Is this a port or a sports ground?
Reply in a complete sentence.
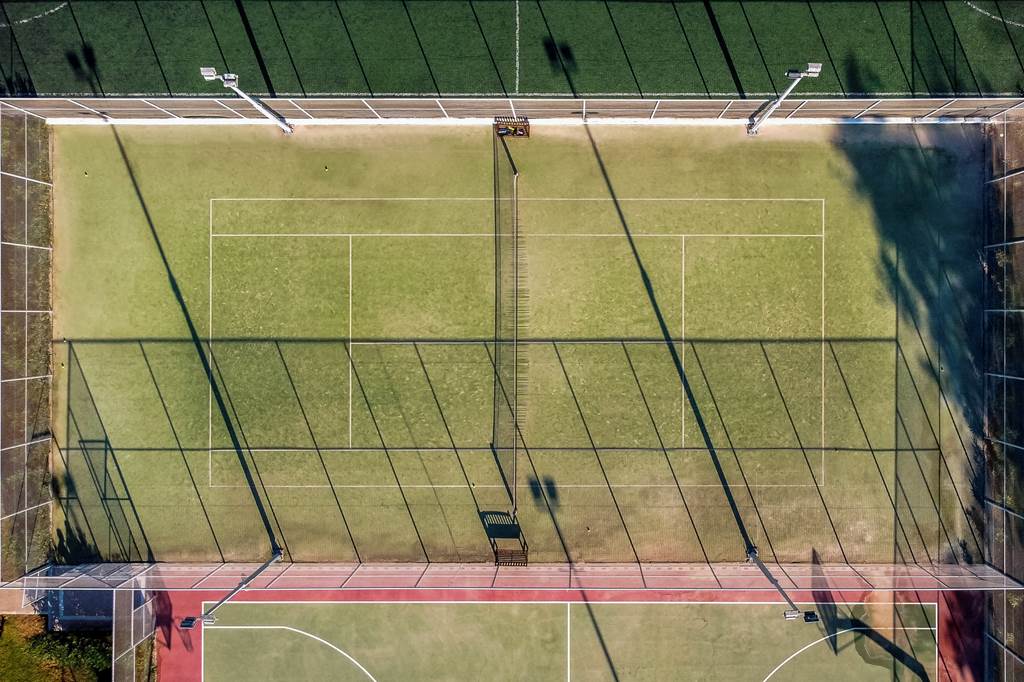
It's a sports ground.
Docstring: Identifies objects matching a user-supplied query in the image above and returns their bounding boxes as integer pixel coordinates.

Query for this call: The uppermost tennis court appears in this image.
[55,124,981,562]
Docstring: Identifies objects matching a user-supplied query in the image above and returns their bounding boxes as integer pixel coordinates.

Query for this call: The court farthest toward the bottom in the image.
[157,571,981,682]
